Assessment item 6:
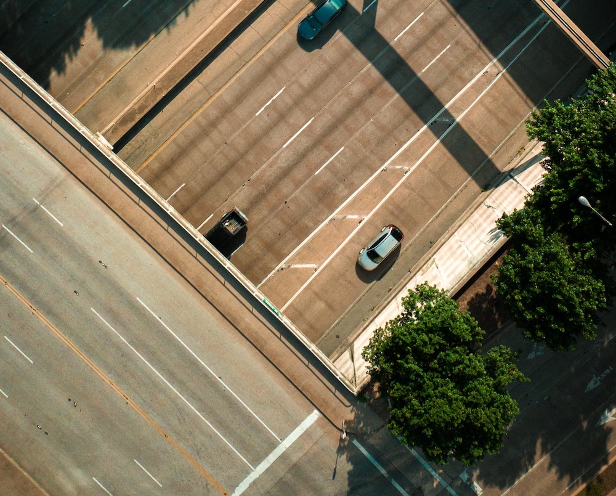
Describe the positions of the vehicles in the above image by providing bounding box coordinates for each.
[361,225,405,270]
[301,0,349,40]
[199,205,251,256]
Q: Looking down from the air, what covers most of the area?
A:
paved ground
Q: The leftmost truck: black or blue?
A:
black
